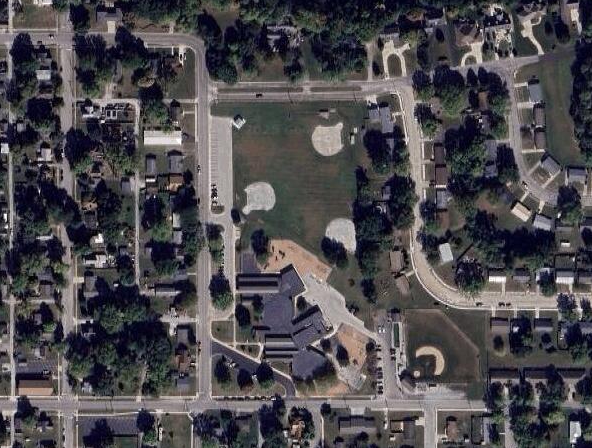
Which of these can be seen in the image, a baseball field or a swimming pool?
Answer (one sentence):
Of the two, only a baseball field appears.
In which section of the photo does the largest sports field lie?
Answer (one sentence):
Look in the center portion of the view to spot the largest sports field.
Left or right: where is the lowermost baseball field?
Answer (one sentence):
You can find the lowermost baseball field on the right side of the picture.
